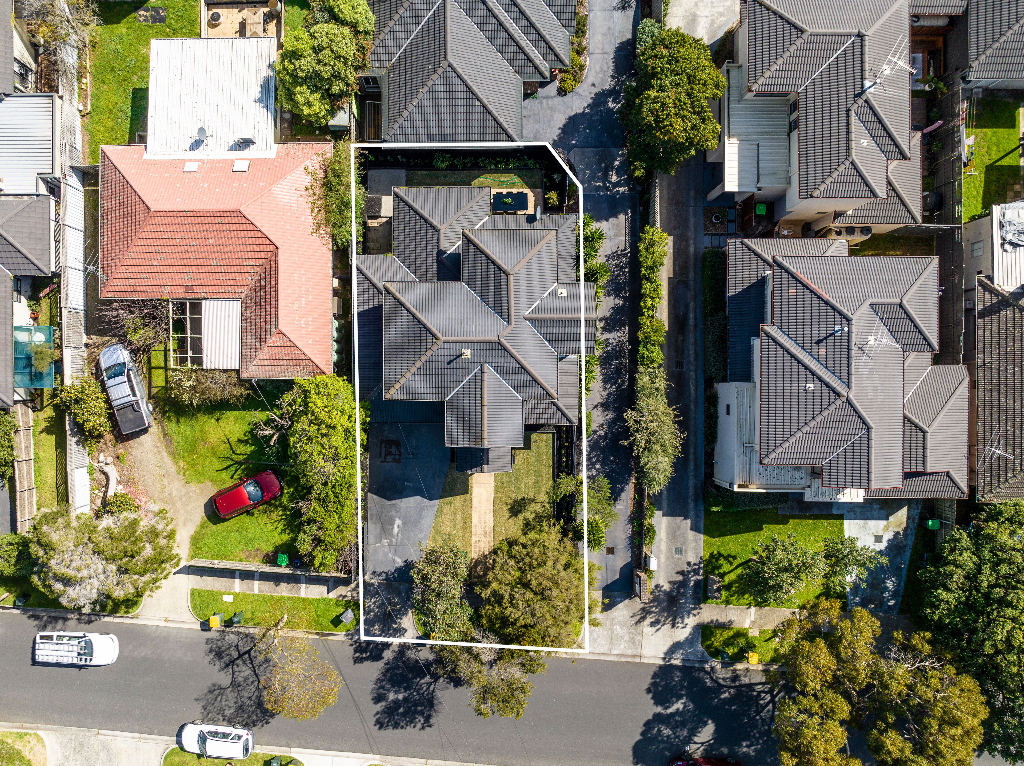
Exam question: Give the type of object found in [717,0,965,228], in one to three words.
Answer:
house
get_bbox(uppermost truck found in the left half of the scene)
[96,341,155,436]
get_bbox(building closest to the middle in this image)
[351,184,599,475]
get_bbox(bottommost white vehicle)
[179,718,256,762]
